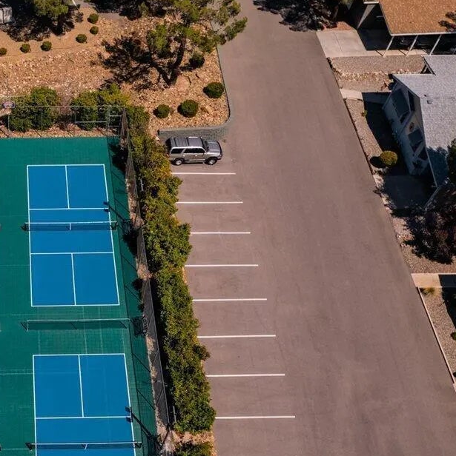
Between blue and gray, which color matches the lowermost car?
gray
